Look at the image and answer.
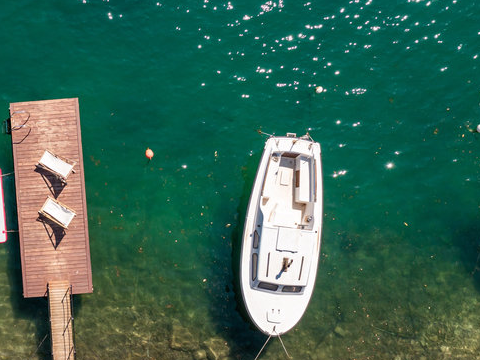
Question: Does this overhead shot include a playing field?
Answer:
No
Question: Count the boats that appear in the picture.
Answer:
one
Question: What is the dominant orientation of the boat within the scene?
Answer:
up and down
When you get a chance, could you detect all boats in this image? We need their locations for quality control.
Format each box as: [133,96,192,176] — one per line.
[239,131,323,337]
